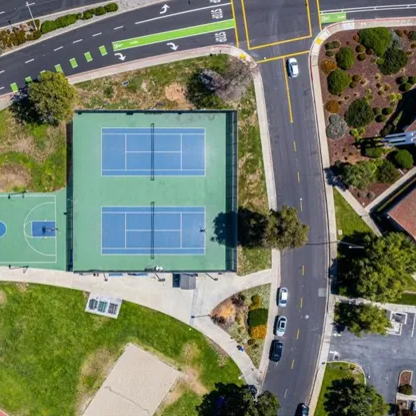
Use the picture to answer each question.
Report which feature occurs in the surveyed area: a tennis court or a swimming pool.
tennis court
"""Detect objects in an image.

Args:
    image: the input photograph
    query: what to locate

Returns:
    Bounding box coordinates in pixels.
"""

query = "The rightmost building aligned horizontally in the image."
[382,130,416,146]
